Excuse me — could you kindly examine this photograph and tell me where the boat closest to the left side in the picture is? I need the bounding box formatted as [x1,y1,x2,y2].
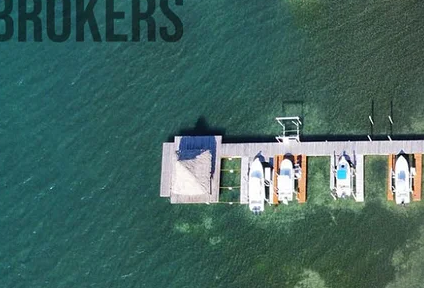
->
[250,158,265,215]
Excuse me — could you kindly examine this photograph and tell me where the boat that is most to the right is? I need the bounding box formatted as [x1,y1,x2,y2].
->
[395,156,410,207]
